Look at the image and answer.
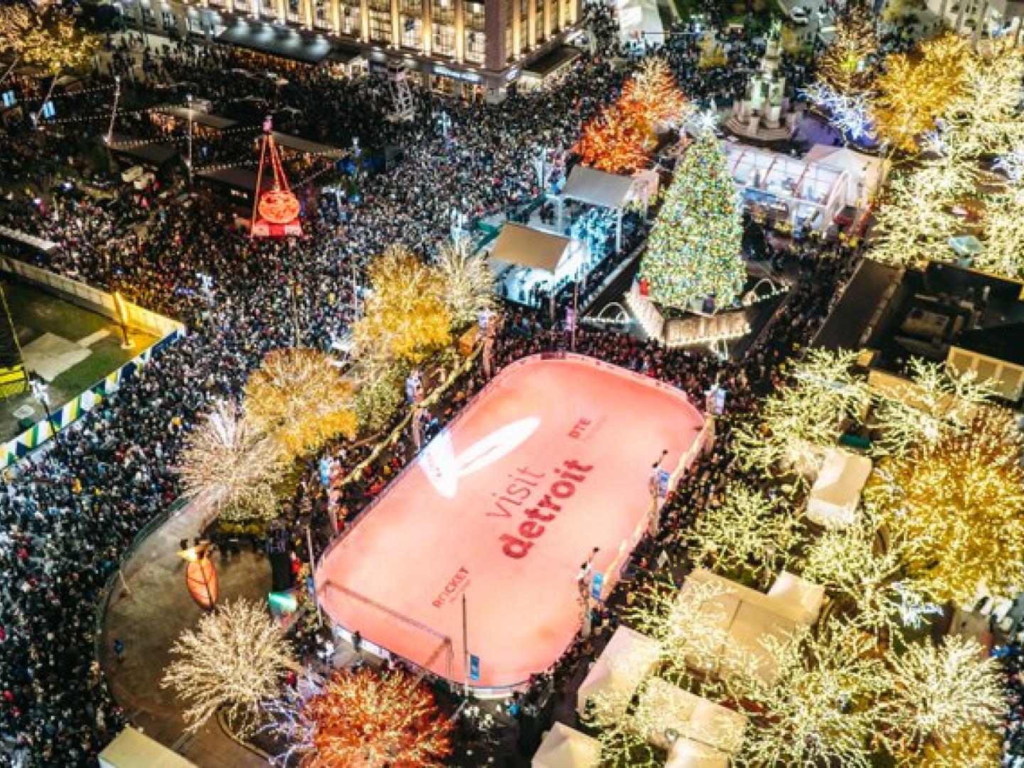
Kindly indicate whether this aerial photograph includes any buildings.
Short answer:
Yes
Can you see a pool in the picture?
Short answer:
No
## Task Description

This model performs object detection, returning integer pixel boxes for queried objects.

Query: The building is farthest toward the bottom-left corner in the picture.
[97,726,196,768]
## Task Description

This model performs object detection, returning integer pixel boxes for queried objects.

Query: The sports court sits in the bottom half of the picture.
[309,344,712,694]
